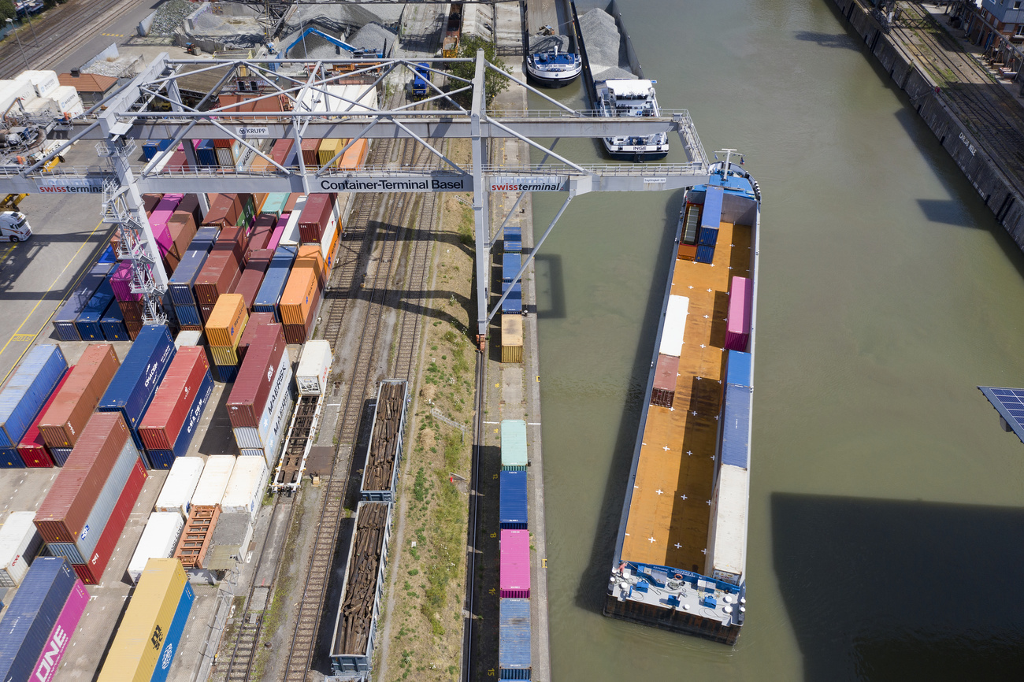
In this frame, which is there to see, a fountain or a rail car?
rail car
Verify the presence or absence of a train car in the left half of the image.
Yes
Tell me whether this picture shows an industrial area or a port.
port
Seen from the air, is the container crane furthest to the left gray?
Yes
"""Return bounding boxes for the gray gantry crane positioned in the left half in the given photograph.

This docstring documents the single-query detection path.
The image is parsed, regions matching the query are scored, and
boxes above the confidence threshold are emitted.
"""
[0,45,715,362]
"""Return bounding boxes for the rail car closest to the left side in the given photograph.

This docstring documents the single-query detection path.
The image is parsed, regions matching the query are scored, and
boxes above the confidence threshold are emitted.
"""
[271,356,334,499]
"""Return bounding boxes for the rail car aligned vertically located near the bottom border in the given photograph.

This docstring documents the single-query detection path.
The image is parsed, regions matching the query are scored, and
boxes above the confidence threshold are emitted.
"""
[329,501,394,675]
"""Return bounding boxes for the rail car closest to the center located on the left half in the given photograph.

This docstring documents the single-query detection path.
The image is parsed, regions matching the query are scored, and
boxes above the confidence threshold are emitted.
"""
[360,380,411,506]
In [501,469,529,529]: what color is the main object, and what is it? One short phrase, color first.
blue shipping container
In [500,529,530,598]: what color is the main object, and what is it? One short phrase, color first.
pink shipping container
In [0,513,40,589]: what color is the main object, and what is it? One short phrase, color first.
white shipping container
